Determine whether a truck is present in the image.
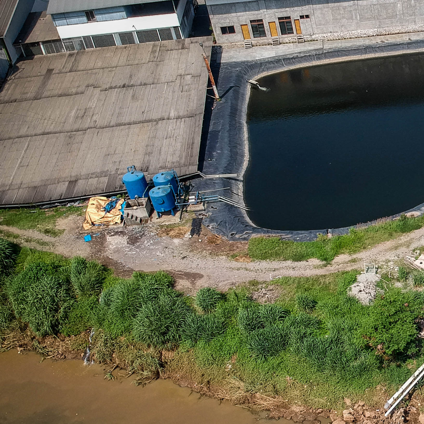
No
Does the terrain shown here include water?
Yes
